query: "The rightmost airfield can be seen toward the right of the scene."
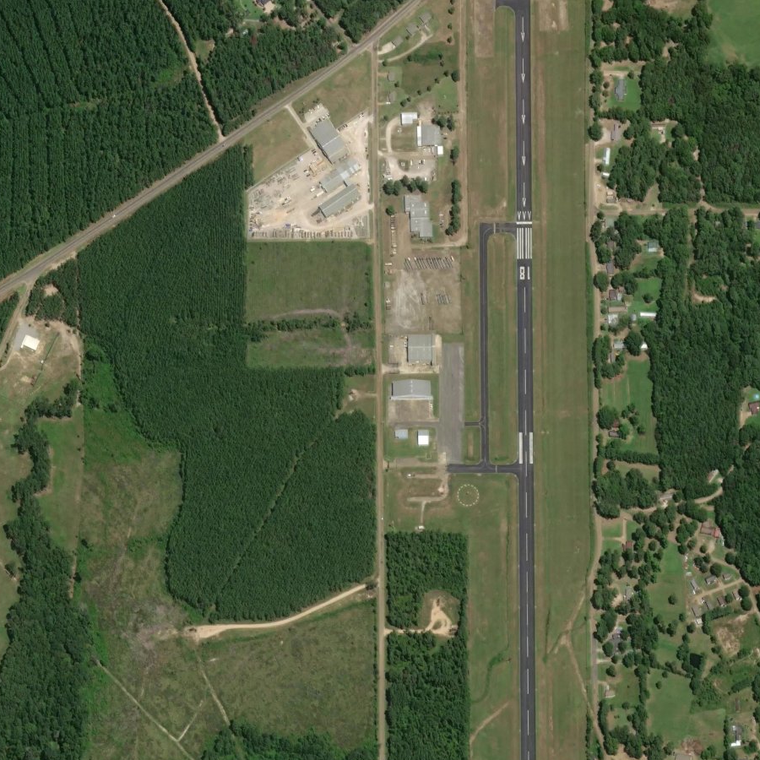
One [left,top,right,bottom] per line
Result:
[388,0,537,760]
